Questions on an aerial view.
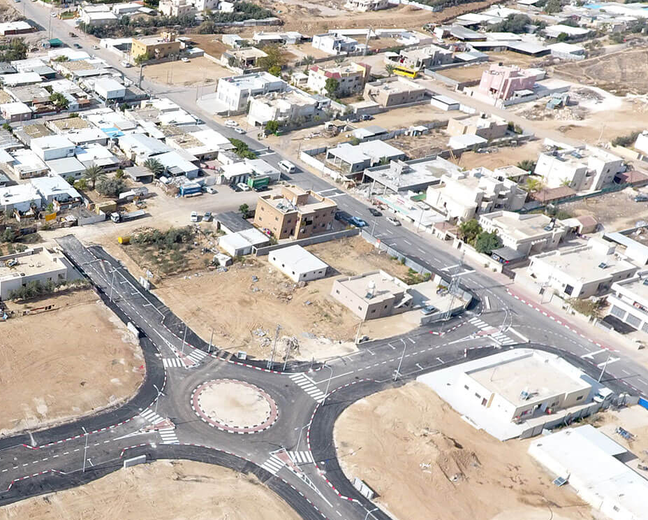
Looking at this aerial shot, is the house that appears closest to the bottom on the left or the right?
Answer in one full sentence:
The house that appears closest to the bottom is on the right side of the image.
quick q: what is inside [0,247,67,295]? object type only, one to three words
house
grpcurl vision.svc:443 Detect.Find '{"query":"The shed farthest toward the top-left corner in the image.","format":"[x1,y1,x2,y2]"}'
[0,21,33,39]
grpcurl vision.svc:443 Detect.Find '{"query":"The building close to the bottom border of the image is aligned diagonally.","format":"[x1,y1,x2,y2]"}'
[525,425,648,520]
